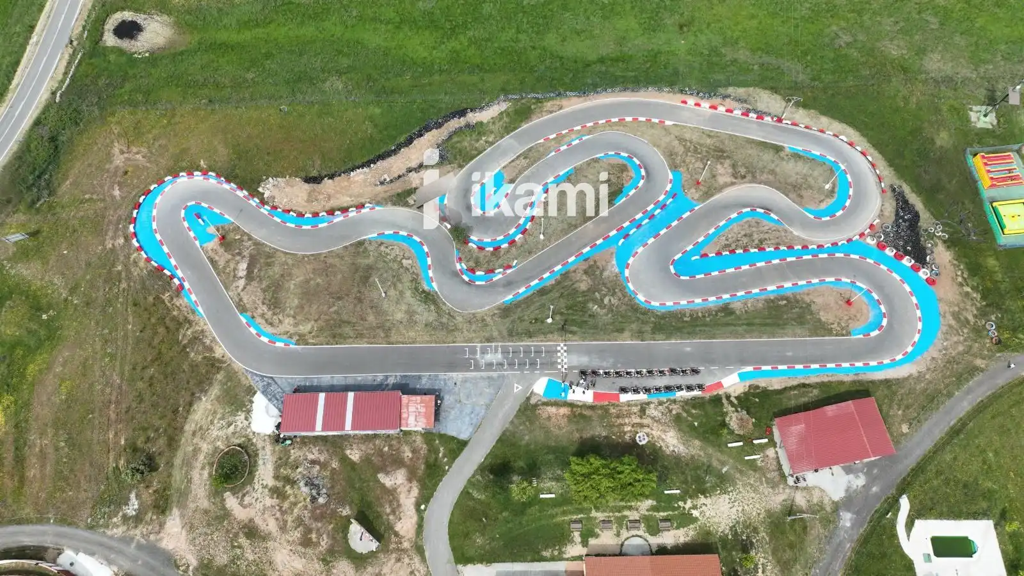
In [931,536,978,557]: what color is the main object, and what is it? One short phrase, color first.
green swimming pool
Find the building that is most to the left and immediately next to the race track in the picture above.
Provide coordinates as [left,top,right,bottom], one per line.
[281,391,401,435]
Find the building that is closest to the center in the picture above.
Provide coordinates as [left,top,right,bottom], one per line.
[401,395,435,430]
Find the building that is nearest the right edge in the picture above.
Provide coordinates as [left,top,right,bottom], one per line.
[770,397,895,476]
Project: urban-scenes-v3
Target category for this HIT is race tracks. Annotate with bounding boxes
[157,100,917,376]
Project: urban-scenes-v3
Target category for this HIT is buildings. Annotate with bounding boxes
[281,391,401,435]
[770,397,895,476]
[580,555,723,576]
